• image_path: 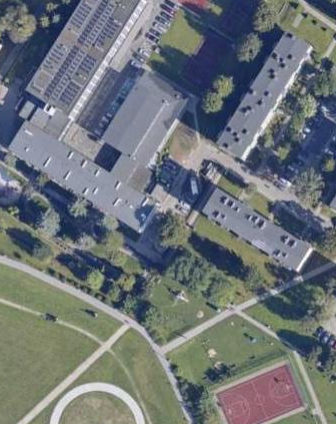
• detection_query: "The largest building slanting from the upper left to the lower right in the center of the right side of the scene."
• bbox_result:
[202,187,311,274]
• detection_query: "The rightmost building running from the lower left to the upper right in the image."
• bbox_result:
[216,33,313,162]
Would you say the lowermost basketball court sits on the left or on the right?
right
